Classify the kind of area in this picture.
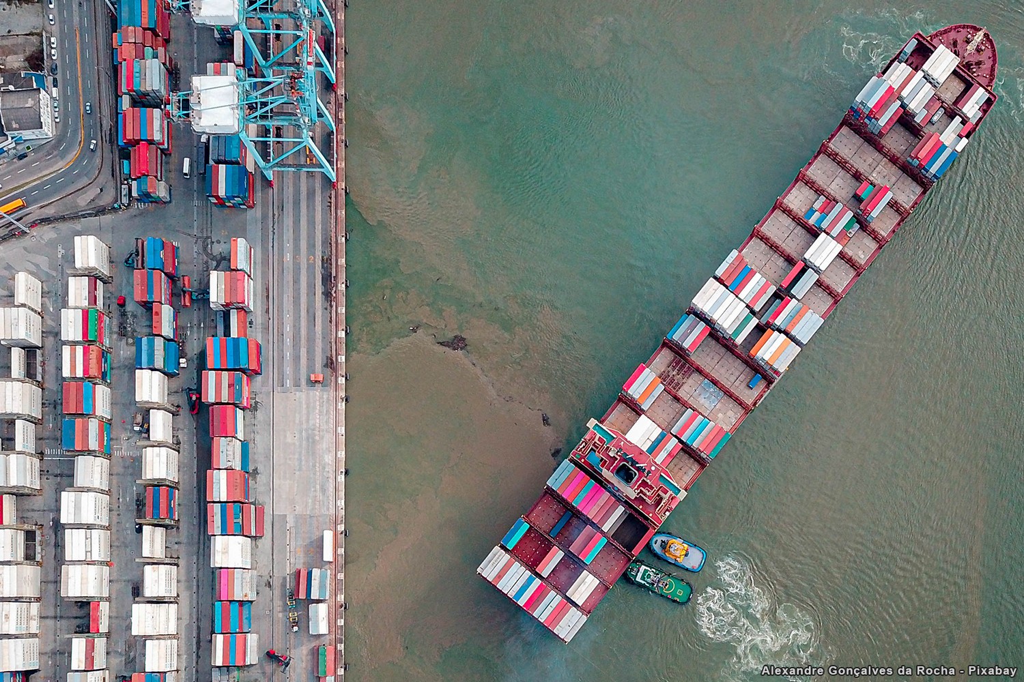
port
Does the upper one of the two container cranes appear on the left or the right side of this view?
left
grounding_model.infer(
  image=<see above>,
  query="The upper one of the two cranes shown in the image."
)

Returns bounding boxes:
[162,0,336,92]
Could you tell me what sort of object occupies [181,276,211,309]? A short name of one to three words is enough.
work vehicle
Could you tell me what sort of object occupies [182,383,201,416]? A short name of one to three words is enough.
work vehicle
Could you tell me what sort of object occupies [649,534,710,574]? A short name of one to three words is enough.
boat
